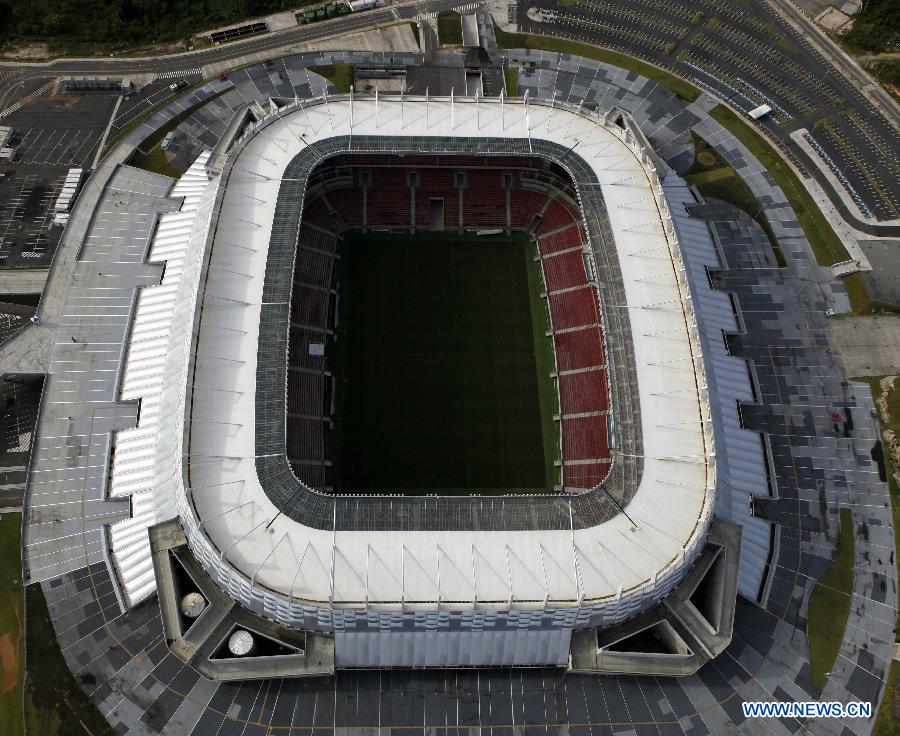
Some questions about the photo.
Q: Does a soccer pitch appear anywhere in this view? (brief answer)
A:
Yes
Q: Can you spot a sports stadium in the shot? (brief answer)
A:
Yes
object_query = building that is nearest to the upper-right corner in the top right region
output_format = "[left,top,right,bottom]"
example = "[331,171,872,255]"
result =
[813,1,854,30]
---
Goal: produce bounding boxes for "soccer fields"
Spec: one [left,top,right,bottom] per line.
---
[323,233,564,497]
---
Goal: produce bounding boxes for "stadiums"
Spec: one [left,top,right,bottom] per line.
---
[104,78,773,684]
